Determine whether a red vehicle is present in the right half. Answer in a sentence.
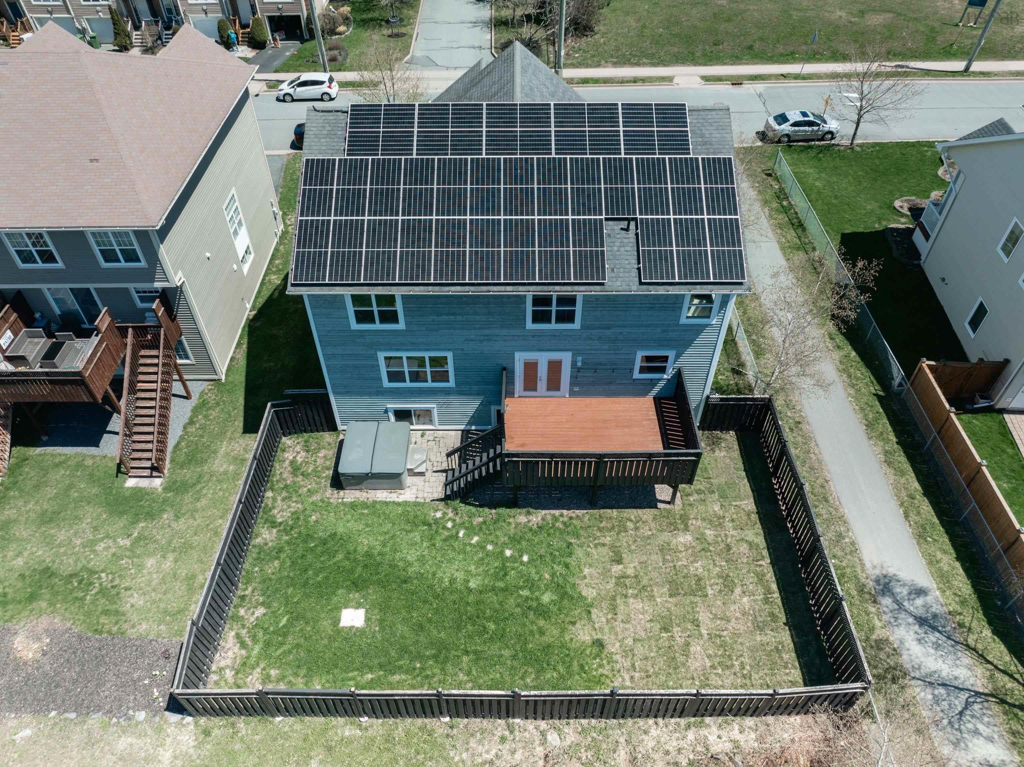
No, no red vehicle can be made out in the right half.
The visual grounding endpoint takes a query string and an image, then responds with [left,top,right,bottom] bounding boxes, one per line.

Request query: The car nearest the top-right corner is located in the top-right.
[764,107,847,140]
